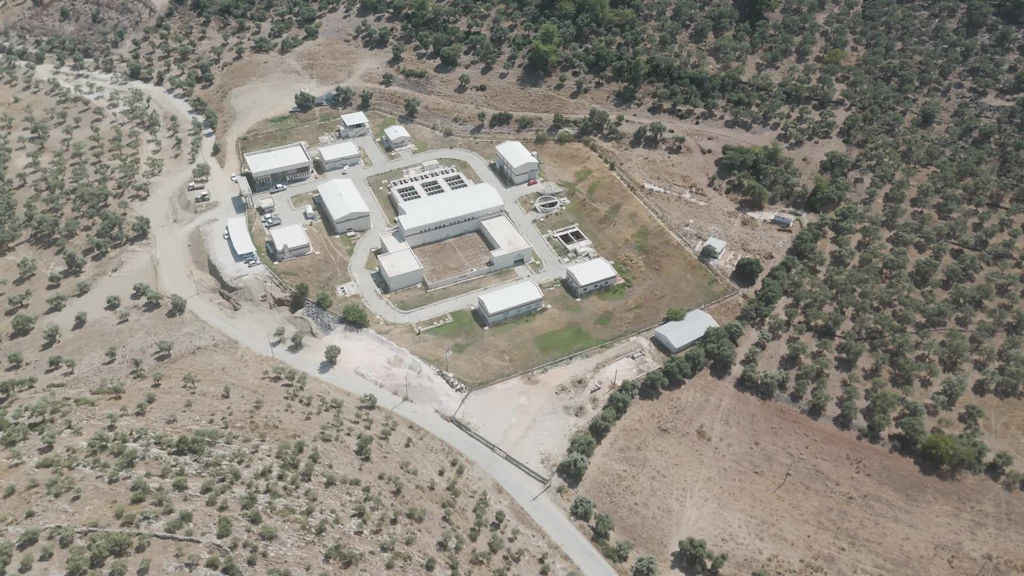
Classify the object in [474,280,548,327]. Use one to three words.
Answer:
building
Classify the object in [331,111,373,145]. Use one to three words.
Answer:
building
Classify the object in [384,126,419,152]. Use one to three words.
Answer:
house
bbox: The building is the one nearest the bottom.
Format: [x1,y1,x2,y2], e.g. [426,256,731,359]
[654,310,715,354]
